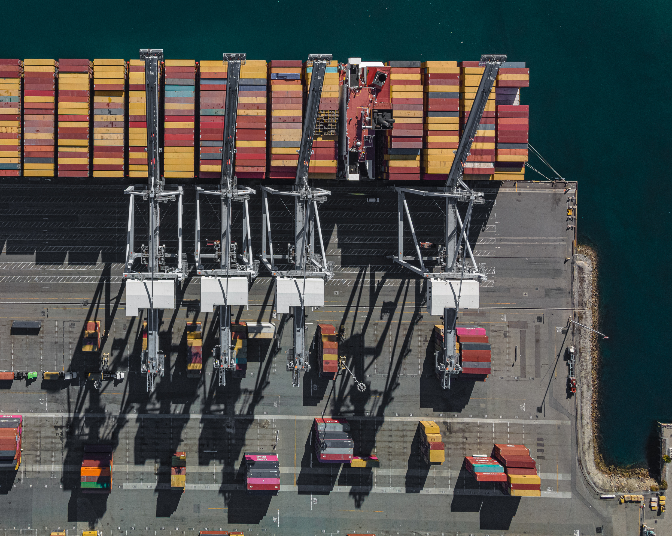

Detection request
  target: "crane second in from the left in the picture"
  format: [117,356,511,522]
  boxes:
[186,51,265,389]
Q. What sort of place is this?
port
